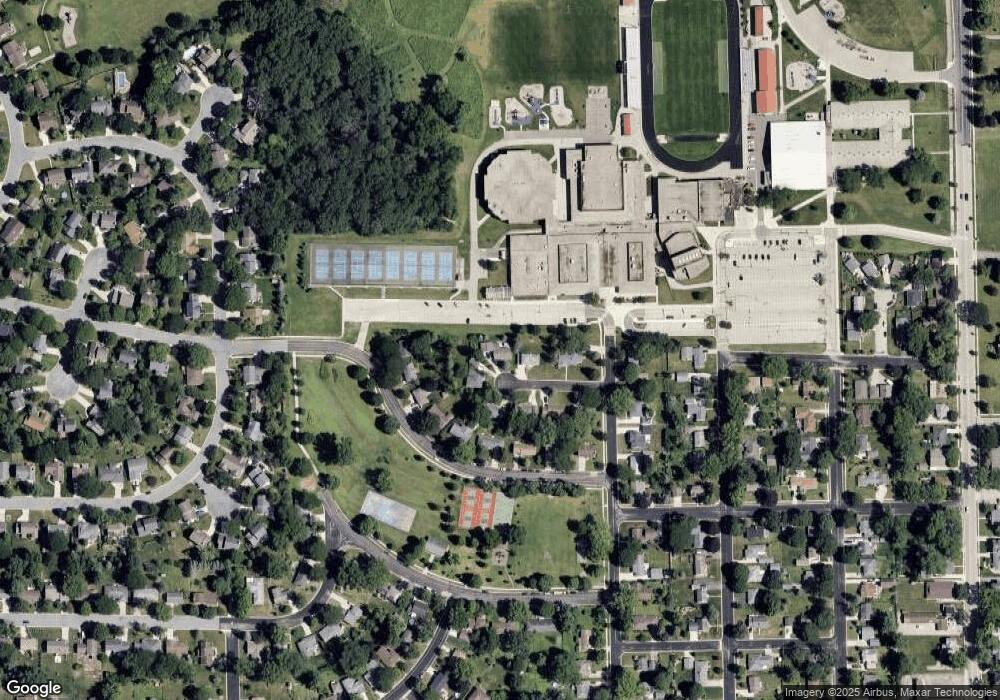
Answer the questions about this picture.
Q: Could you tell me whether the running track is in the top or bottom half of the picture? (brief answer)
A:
top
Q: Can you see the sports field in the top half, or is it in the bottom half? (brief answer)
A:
top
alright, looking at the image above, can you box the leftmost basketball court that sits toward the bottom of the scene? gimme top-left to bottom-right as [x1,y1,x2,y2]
[360,491,416,532]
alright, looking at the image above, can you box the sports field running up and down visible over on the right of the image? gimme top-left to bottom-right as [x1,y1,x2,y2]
[653,0,729,160]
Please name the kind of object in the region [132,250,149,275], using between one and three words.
house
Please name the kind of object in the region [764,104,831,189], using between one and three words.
building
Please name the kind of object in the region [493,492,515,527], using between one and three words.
tennis court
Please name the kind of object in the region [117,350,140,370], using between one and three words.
house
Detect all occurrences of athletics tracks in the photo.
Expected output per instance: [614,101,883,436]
[641,0,742,172]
